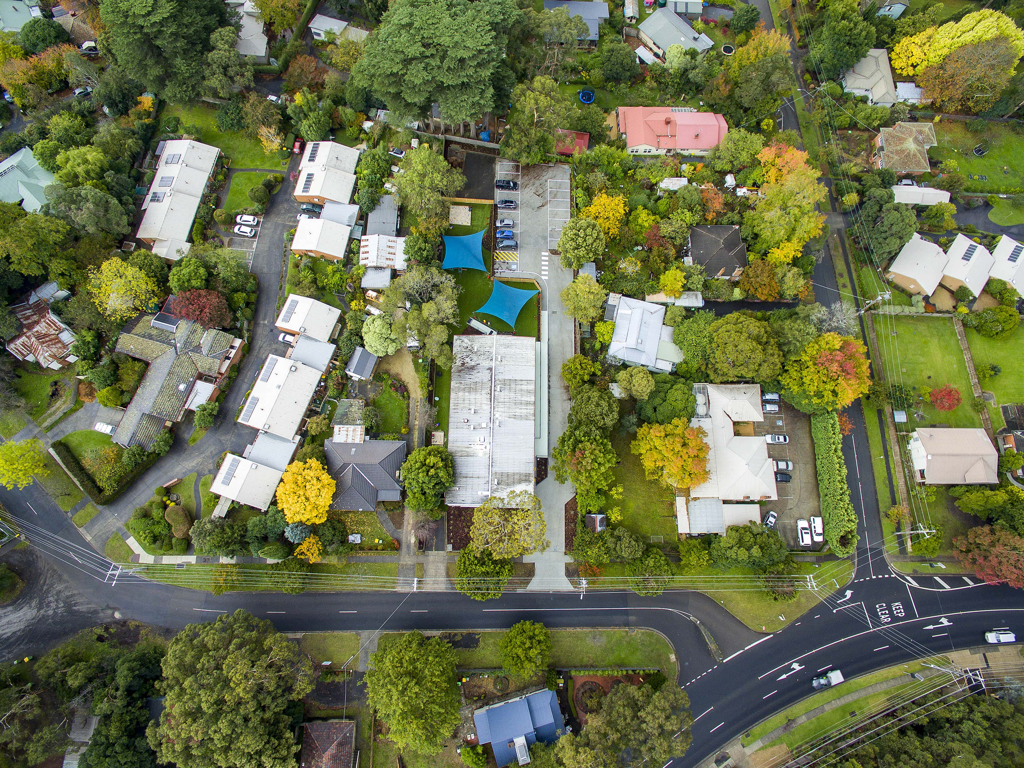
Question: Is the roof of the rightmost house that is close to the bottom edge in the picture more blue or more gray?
blue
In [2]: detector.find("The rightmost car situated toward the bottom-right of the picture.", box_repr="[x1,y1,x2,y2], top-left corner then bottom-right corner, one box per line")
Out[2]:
[987,631,1014,643]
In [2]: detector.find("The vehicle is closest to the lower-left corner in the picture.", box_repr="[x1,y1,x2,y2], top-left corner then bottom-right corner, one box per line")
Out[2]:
[94,423,118,435]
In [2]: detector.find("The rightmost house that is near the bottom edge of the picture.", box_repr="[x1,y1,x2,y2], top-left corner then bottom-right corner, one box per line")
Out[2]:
[474,690,566,767]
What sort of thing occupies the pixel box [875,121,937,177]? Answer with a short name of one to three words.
house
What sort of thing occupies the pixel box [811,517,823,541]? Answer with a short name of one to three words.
vehicle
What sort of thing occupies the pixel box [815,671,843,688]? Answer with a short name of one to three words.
vehicle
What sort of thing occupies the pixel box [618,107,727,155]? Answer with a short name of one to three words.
house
